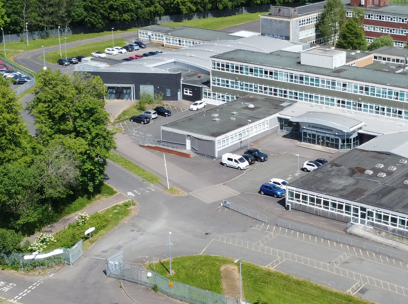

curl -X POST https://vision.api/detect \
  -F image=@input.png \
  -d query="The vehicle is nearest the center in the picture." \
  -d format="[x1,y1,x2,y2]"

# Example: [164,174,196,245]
[222,149,251,167]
